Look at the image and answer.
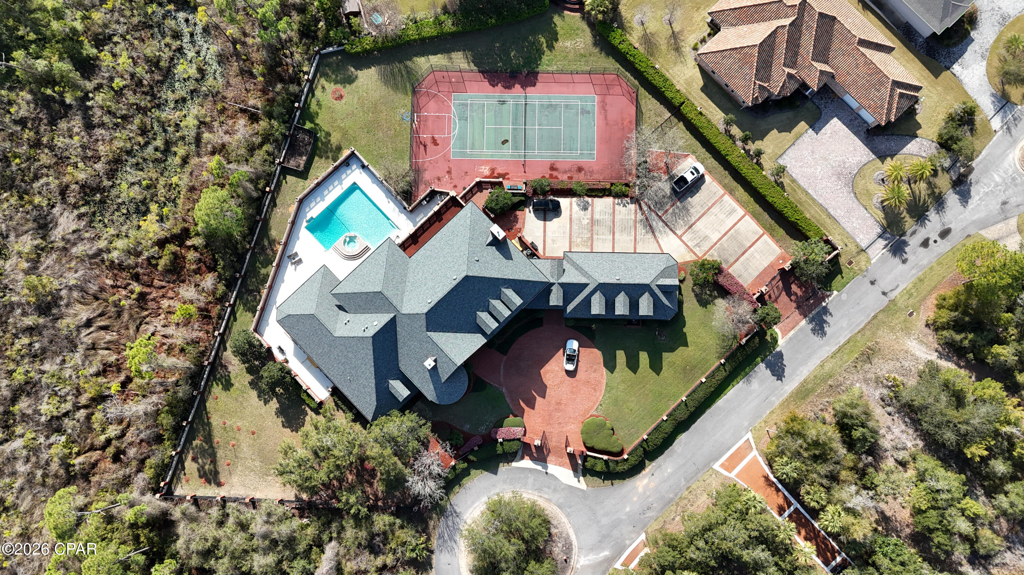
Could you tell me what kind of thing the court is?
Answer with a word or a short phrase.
tennis court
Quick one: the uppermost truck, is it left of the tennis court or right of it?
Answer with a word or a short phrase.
to the right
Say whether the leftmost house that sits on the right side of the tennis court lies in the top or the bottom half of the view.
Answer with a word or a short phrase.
top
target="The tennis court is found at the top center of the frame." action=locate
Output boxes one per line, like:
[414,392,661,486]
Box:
[407,64,640,207]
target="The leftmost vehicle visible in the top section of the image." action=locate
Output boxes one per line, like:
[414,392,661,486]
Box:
[531,197,561,211]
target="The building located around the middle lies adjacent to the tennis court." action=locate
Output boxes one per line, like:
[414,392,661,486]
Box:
[276,200,679,423]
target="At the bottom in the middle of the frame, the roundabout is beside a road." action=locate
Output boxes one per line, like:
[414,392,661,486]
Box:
[459,490,577,575]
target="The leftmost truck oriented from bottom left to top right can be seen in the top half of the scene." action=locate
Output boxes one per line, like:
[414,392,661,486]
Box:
[670,162,705,194]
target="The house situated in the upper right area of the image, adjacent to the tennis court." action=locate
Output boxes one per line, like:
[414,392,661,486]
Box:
[696,0,922,130]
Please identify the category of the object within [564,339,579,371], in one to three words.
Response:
car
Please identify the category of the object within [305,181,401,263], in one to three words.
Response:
swimming pool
